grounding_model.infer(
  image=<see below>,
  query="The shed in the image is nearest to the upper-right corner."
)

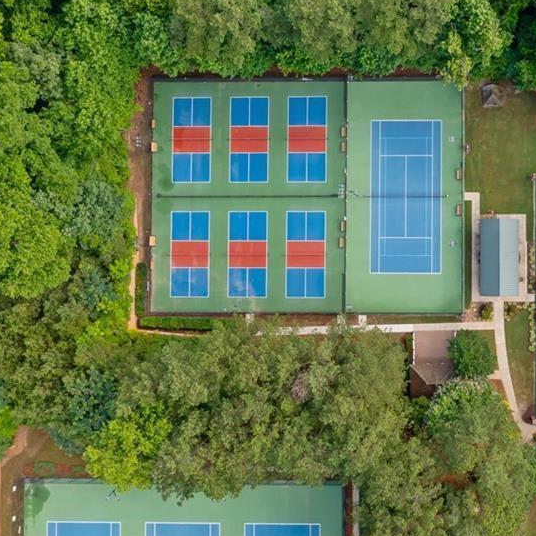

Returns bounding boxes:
[481,85,503,108]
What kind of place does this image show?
sports ground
